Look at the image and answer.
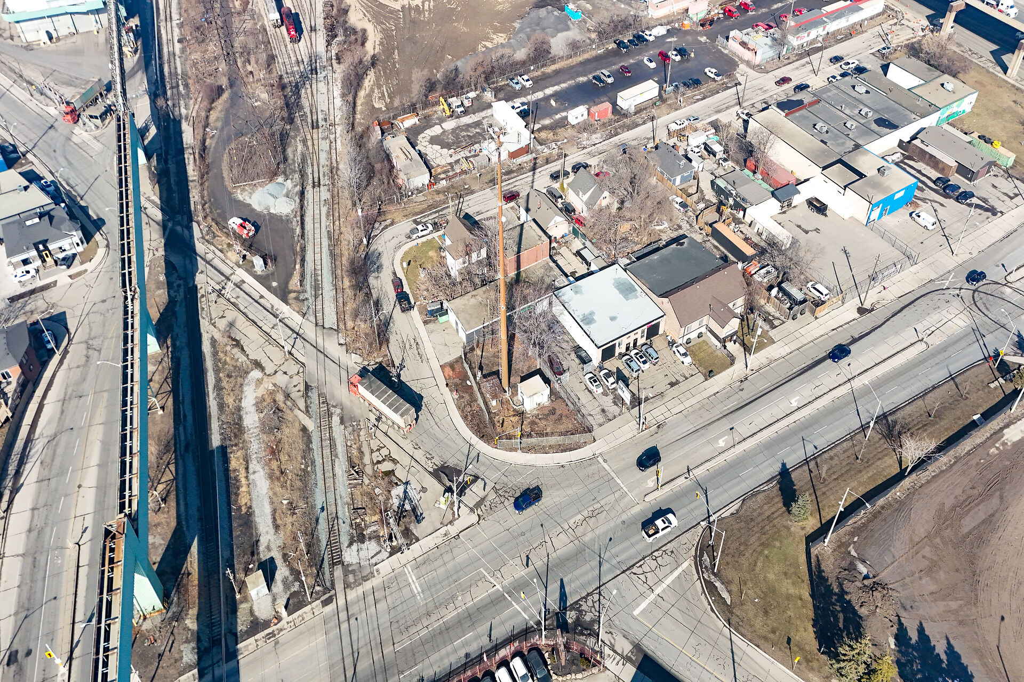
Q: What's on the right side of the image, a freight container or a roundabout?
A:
freight container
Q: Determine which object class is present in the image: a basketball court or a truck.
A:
truck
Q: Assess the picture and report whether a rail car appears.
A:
Yes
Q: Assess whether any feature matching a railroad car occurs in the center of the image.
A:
No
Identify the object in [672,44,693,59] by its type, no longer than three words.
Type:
vehicle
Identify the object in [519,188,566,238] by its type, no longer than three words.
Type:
house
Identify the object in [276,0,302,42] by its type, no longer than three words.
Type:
rail car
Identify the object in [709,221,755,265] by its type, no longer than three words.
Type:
shipping container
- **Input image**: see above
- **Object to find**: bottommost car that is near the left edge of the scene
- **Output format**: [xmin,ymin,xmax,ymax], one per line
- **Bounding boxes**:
[41,330,57,350]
